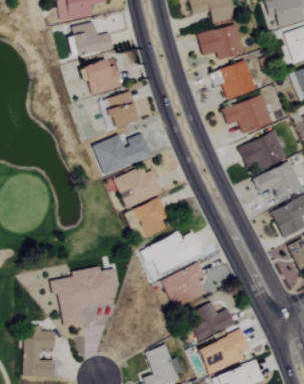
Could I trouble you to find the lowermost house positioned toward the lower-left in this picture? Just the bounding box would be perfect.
[24,330,56,376]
